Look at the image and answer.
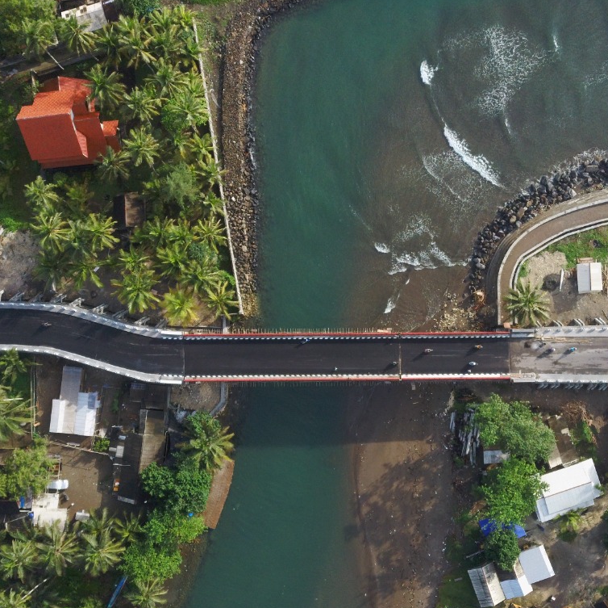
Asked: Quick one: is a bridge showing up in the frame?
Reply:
Yes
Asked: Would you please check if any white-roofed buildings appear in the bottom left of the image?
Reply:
Yes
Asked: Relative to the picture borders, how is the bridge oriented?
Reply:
from left to right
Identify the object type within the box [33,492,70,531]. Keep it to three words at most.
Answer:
house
